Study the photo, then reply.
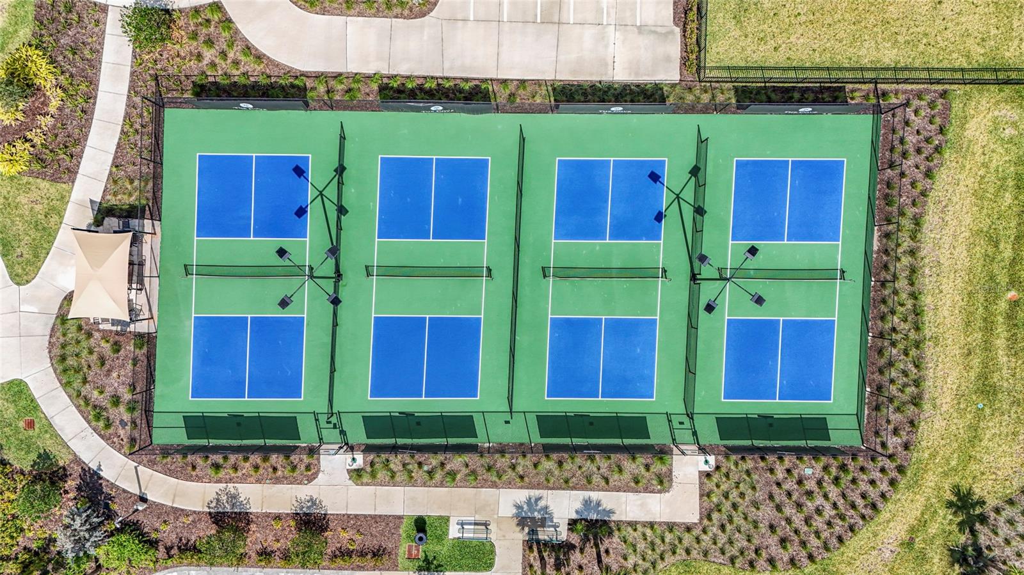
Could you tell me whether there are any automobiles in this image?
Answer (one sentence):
No, no automobile can be seen from above.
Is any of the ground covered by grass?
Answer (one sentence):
Yes, there is grass in the image.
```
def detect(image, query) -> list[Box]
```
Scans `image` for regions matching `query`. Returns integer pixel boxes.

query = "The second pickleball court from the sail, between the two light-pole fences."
[331,111,525,444]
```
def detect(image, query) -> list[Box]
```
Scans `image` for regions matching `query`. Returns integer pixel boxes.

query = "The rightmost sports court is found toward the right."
[687,114,882,446]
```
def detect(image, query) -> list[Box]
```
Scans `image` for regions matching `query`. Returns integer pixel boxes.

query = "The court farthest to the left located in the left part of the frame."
[153,108,344,444]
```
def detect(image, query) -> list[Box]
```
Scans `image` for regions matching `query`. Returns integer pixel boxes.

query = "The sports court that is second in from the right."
[510,113,703,445]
